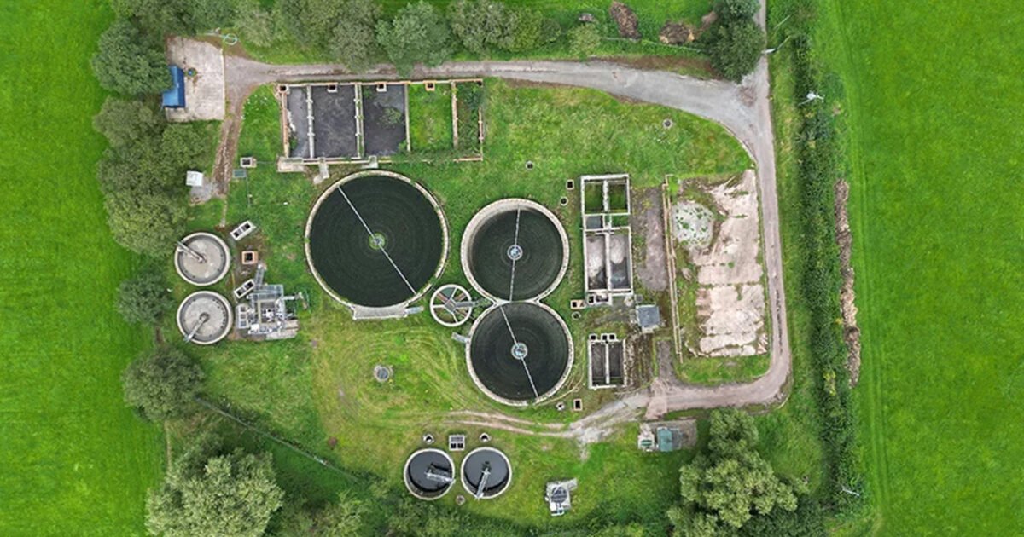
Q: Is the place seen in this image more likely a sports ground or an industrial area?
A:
industrial area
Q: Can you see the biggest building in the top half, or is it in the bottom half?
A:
bottom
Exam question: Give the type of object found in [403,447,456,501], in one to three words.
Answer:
storage tank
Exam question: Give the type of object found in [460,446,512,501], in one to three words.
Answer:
storage tank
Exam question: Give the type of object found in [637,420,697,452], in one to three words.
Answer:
building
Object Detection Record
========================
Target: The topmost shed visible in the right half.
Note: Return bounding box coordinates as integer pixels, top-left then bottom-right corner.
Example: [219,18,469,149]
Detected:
[634,305,660,332]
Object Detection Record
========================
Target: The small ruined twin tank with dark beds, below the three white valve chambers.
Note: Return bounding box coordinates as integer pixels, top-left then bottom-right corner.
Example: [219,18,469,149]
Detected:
[588,339,627,389]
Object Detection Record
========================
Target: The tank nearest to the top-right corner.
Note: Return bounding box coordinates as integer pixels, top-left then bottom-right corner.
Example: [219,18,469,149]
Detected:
[580,173,635,308]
